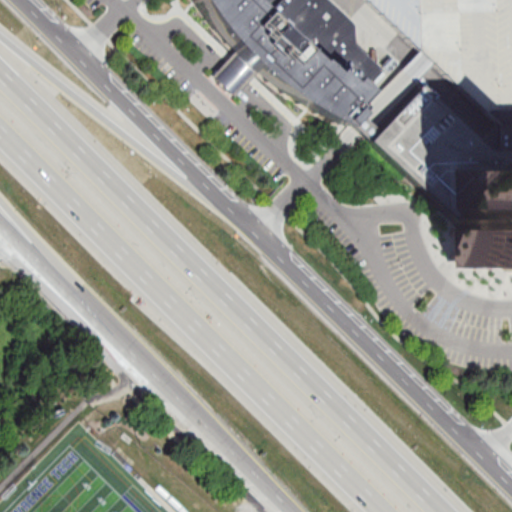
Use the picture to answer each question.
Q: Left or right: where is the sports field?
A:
left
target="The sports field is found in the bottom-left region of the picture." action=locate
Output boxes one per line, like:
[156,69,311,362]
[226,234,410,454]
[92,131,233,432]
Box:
[0,424,167,512]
